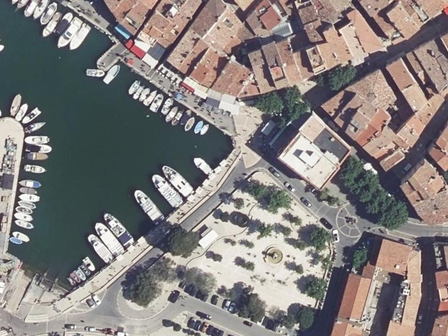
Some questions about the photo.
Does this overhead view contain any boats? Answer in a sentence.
Yes, the picture does show a boat.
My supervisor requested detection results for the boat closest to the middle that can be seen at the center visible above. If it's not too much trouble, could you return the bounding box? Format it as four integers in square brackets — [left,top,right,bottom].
[194,158,212,174]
